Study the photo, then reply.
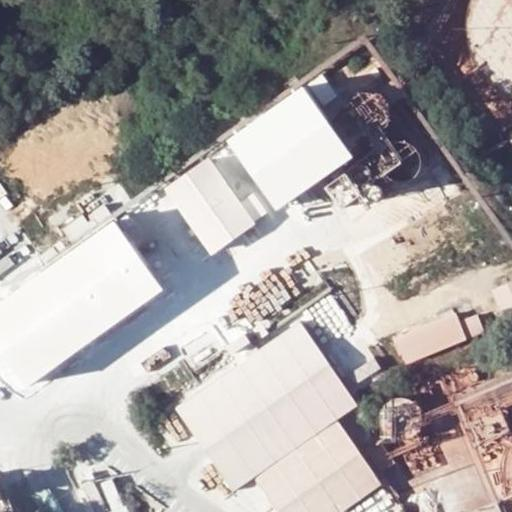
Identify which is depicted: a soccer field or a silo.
silo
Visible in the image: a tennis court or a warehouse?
warehouse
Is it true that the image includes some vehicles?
Yes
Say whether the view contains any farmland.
No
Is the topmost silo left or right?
right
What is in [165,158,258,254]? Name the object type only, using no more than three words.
building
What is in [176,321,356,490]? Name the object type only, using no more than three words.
warehouse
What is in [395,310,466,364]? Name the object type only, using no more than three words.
shed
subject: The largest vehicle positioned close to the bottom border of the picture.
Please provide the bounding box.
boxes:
[37,488,55,506]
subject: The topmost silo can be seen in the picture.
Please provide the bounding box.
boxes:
[350,88,396,143]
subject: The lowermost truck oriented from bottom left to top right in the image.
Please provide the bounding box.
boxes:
[140,342,178,372]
